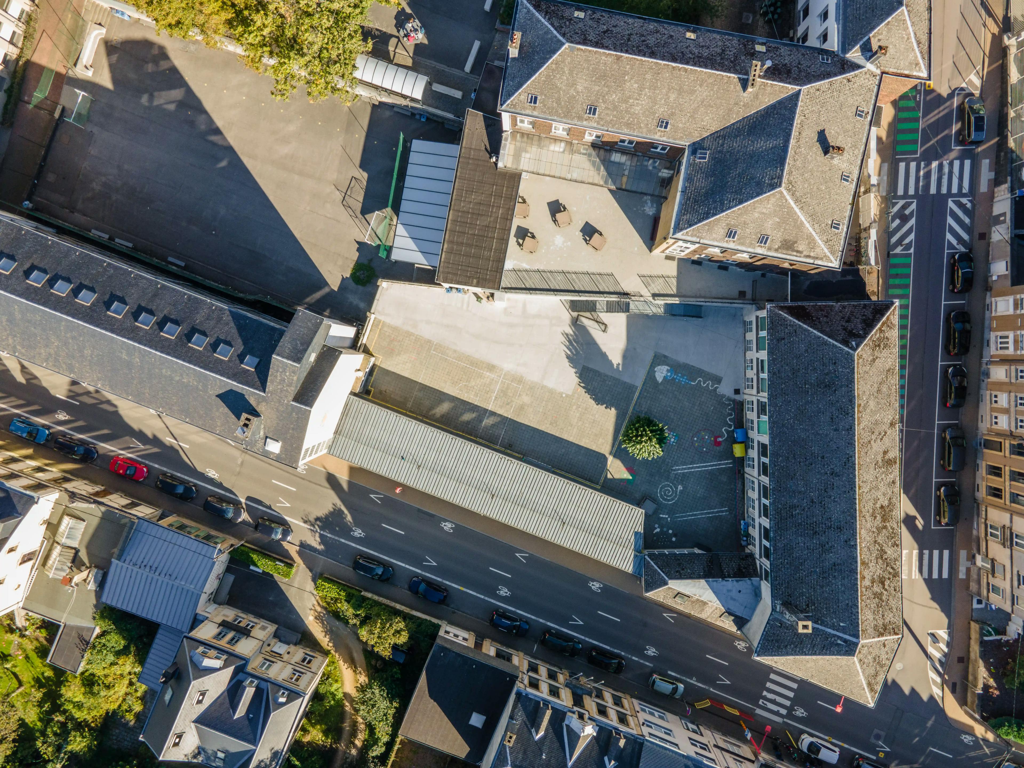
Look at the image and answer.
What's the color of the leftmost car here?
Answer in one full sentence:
From above, the leftmost car appears blue.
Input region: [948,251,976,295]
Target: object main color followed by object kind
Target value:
black car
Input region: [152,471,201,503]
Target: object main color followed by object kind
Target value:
black car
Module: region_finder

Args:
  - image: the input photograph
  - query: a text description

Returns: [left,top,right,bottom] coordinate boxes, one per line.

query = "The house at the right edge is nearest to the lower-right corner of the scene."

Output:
[970,501,1024,617]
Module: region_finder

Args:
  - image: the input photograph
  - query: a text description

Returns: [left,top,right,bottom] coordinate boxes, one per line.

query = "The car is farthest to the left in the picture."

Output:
[5,414,56,446]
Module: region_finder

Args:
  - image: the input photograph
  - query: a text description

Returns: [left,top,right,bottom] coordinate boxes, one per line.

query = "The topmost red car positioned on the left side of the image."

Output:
[106,453,153,483]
